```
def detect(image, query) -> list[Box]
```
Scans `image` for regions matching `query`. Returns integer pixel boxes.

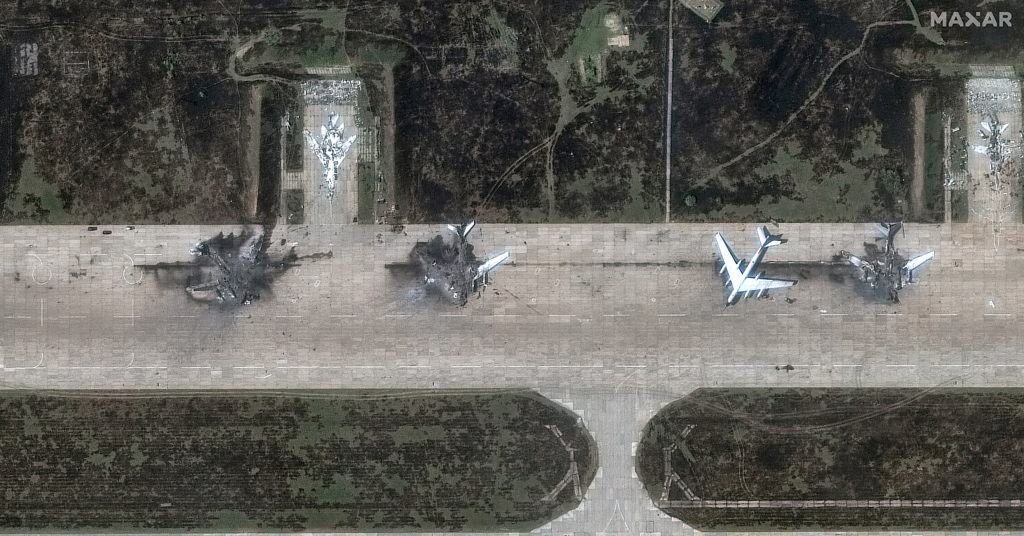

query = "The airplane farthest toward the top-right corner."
[973,112,1024,188]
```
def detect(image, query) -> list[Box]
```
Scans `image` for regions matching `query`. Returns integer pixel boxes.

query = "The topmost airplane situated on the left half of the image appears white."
[303,112,357,202]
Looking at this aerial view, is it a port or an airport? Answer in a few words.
airport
